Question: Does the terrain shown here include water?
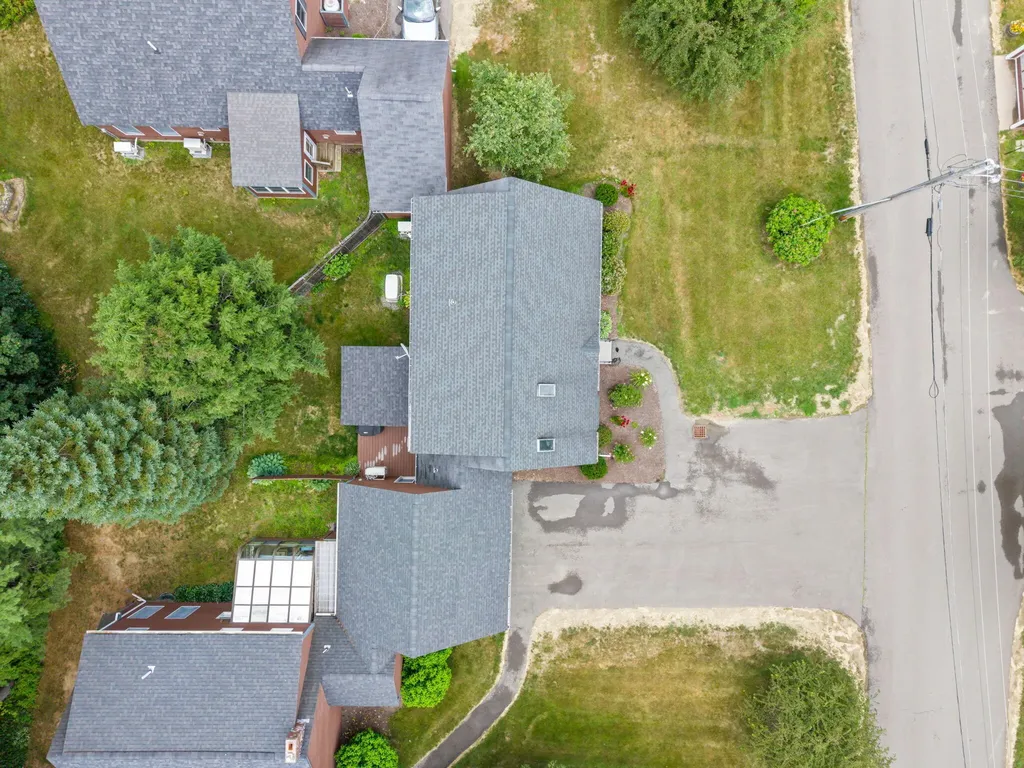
No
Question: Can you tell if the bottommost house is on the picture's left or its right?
left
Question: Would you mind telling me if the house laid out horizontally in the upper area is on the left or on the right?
left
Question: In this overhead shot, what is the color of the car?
white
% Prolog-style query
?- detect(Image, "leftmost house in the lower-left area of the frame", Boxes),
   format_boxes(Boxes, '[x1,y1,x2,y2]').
[48,530,404,768]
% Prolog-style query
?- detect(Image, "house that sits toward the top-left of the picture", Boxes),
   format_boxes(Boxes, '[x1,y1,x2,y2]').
[34,0,451,217]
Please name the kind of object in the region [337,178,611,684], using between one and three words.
house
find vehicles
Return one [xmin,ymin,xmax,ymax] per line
[397,0,444,36]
